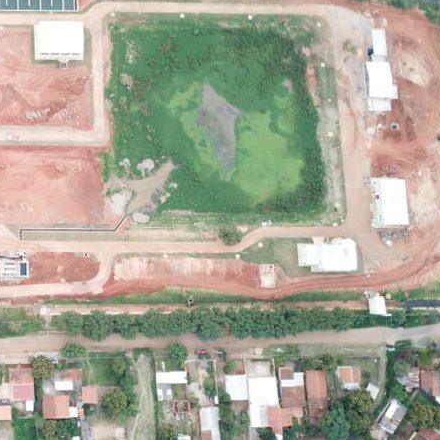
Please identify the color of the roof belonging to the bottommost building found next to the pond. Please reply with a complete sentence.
From above, the roof of the bottommost building found next to the pond looks white.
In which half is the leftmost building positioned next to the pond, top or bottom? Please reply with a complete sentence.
The top half of the photo is where the leftmost building positioned next to the pond is.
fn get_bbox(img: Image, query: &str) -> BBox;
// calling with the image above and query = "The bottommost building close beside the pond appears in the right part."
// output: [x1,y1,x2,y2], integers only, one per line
[294,235,360,272]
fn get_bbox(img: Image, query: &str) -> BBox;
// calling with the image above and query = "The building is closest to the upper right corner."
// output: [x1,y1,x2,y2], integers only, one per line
[367,28,388,57]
